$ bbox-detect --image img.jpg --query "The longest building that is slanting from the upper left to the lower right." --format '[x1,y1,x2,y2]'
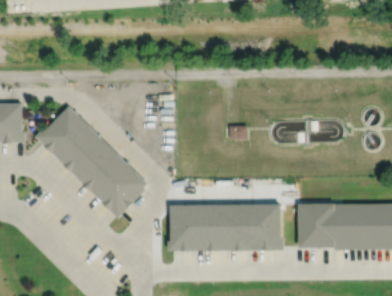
[36,106,144,216]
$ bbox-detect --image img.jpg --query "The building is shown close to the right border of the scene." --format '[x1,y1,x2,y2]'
[298,202,392,250]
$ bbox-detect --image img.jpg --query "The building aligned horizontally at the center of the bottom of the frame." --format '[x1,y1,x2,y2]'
[168,203,285,252]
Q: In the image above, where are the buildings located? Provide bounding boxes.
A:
[168,203,285,252]
[0,103,24,142]
[36,106,144,216]
[230,125,248,139]
[298,202,392,250]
